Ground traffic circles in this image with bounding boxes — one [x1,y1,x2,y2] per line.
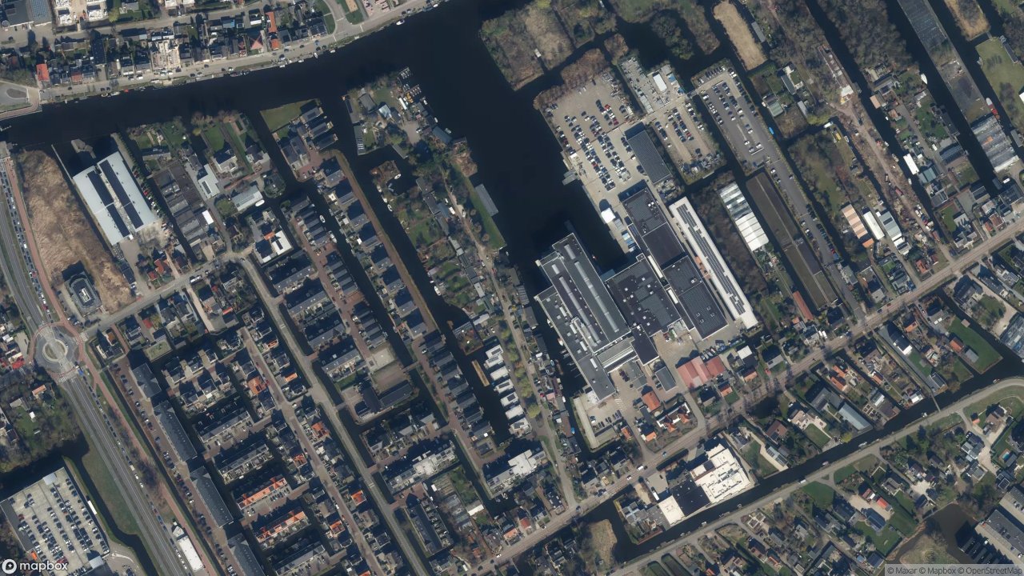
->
[32,327,80,378]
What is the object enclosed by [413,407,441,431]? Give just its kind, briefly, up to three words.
house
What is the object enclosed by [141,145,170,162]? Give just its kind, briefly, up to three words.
house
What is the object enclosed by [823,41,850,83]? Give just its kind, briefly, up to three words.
shed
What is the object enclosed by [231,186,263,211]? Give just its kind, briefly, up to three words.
building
